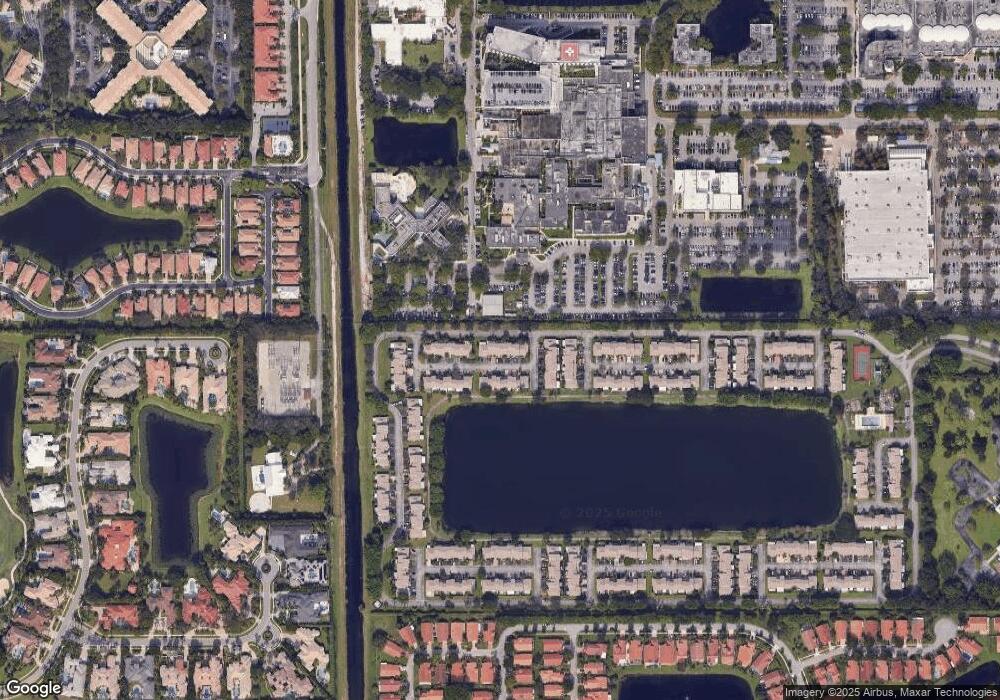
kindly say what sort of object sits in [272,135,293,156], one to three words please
swimming pool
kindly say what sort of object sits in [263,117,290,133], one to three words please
sports court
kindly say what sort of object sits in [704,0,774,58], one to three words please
pond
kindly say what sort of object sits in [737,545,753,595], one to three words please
house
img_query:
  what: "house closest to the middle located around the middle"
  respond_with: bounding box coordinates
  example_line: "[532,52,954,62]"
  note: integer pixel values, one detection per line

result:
[479,340,528,359]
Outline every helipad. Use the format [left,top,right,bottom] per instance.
[561,42,579,61]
